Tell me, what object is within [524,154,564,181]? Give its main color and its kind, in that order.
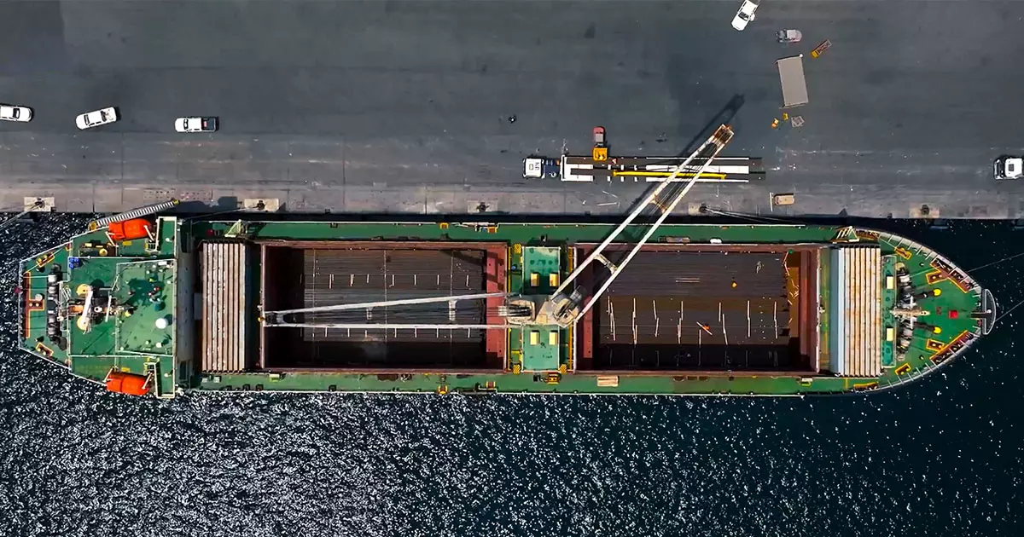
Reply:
white truck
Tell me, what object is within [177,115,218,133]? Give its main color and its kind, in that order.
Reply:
white vehicle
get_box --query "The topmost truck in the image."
[730,0,760,30]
